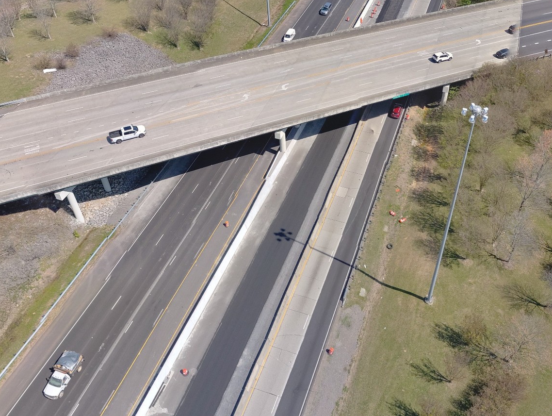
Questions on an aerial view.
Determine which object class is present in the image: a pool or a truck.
truck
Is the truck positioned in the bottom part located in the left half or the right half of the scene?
left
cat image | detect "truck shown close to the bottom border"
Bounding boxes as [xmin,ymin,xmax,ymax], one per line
[38,343,84,404]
